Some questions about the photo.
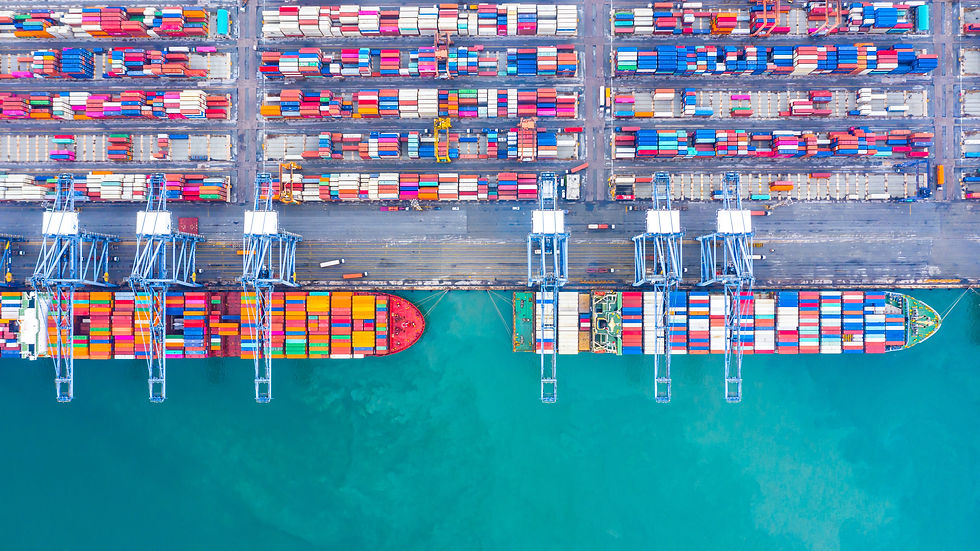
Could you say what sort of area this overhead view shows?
port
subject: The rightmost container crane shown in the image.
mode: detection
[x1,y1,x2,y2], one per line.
[894,160,932,204]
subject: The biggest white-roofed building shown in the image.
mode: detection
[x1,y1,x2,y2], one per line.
[564,174,581,200]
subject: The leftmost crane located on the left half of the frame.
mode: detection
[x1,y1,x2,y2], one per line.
[0,234,32,287]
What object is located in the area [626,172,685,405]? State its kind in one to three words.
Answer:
container crane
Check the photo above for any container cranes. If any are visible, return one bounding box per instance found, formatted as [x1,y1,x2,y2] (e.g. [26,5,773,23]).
[894,160,932,204]
[434,117,453,165]
[690,172,756,405]
[31,172,123,405]
[518,117,537,165]
[522,172,571,405]
[749,0,778,38]
[240,172,305,405]
[0,234,32,287]
[128,172,208,405]
[278,161,304,205]
[808,0,839,38]
[626,172,685,405]
[435,31,454,80]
